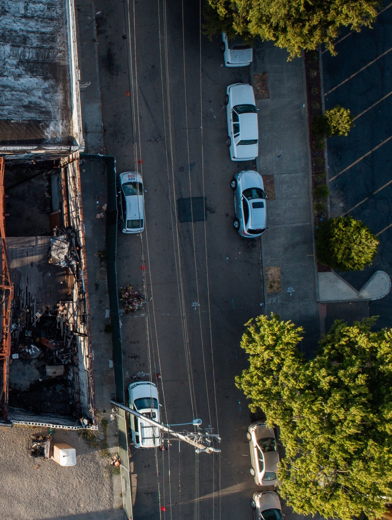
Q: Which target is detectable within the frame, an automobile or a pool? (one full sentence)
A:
Of the two, only an automobile appears.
